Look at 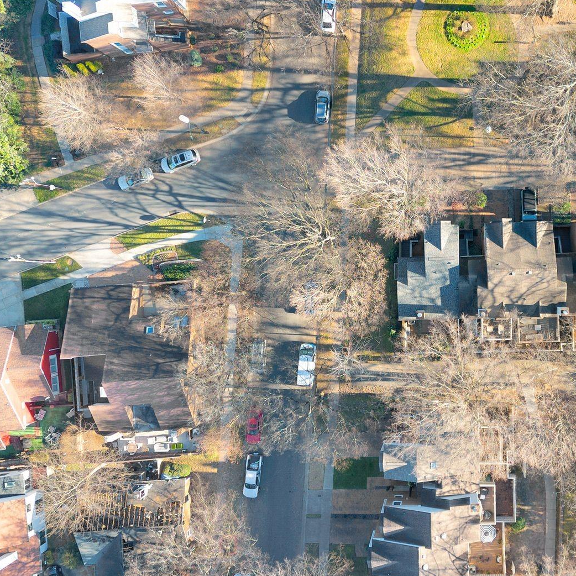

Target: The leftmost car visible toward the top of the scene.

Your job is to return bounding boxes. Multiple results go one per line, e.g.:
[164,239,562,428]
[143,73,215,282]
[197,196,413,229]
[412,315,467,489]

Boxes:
[118,168,156,190]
